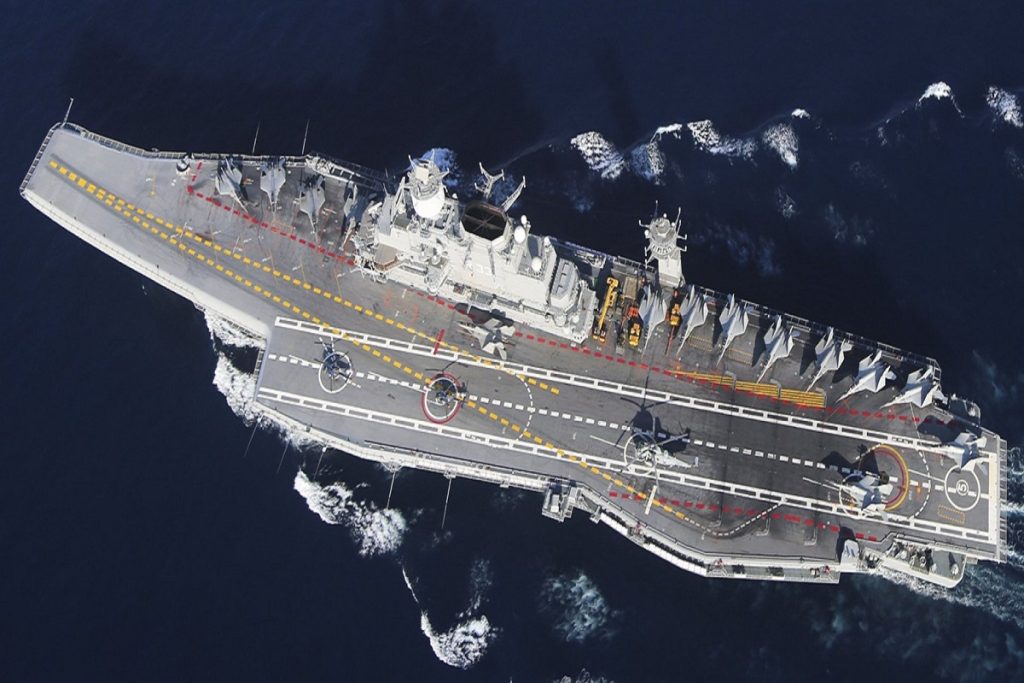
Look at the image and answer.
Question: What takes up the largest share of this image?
water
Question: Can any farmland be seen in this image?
No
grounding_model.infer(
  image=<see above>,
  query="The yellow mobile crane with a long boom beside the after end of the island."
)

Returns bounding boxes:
[595,276,619,331]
